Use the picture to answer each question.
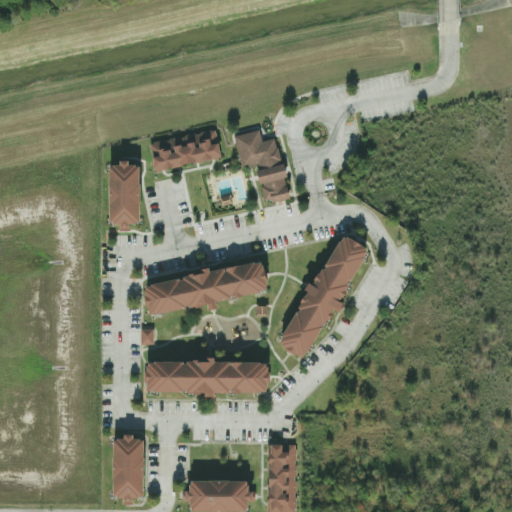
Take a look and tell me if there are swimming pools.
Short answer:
Yes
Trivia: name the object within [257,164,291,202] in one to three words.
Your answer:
building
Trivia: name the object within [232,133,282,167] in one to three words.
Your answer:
building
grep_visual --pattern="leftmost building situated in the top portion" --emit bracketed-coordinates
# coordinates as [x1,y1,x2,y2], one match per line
[108,160,140,230]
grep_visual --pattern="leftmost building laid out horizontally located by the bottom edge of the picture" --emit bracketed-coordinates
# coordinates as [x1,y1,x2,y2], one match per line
[185,481,254,512]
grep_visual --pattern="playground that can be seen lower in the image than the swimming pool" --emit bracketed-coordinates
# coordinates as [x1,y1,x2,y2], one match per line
[195,316,259,349]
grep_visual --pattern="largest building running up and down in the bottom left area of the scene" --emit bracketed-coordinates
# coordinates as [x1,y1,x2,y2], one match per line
[112,436,144,506]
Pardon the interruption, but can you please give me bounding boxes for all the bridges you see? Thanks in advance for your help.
[438,0,461,36]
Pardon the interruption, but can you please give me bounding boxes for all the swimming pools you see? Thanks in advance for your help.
[208,169,250,210]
